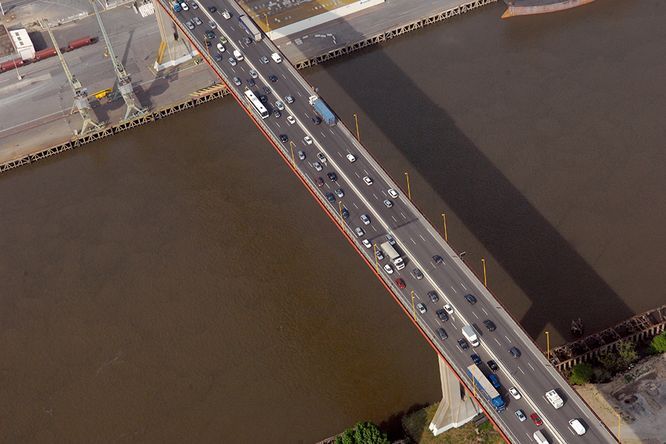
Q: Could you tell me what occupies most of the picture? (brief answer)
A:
water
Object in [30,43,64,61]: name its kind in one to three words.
rail car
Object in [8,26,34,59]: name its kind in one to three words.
building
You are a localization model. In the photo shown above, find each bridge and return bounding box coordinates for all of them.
[155,0,624,444]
